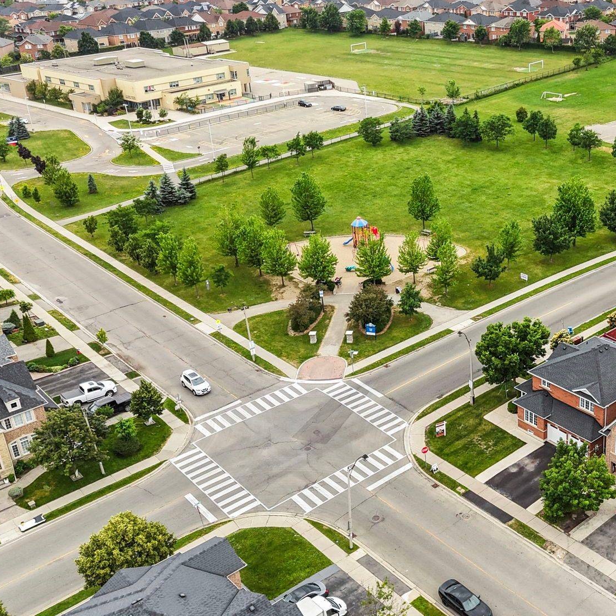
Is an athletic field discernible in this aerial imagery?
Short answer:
Yes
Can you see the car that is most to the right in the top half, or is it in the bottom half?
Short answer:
bottom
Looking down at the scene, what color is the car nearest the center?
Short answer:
white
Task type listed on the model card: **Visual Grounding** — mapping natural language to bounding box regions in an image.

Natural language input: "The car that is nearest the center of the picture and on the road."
[179,370,211,396]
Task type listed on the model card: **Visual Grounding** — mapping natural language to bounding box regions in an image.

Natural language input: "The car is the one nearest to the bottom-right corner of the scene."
[436,578,494,616]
